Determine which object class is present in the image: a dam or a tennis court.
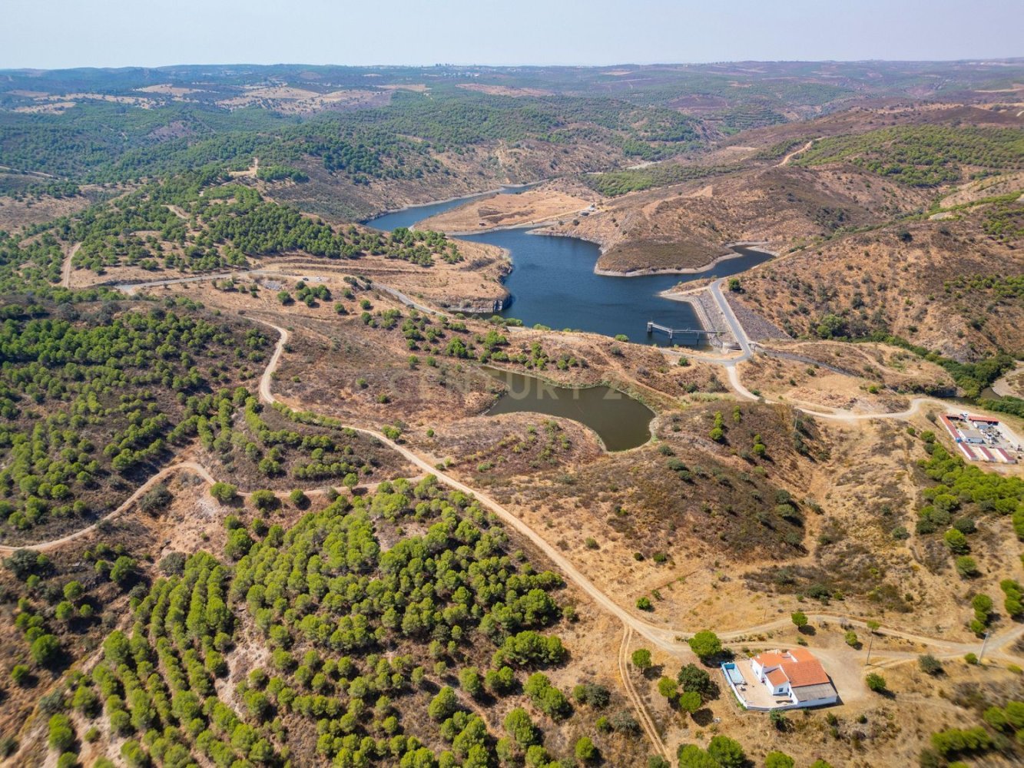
dam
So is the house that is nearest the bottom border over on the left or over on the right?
right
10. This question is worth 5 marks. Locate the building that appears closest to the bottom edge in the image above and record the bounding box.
[752,647,839,709]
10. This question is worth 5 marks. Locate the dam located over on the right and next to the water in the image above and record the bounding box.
[687,283,779,364]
